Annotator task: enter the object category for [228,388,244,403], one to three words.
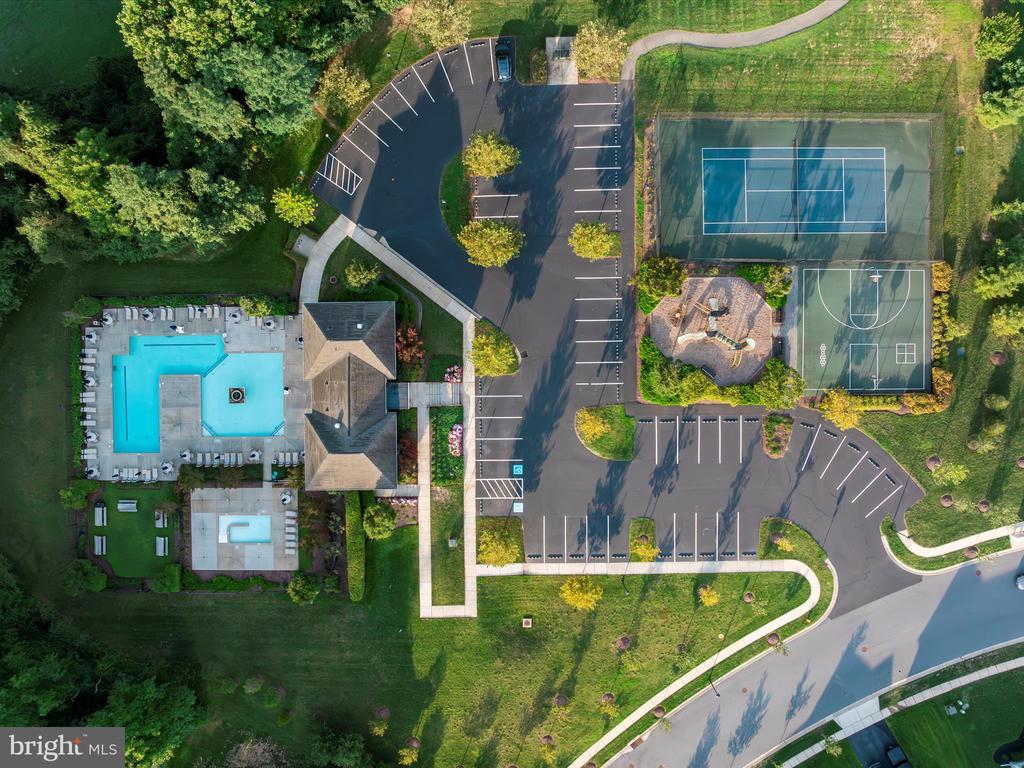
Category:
fountain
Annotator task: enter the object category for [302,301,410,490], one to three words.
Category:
building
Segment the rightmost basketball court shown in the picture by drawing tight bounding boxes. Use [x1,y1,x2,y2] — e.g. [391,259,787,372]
[797,263,932,394]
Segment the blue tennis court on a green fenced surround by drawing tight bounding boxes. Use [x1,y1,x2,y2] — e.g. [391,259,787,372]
[657,118,931,262]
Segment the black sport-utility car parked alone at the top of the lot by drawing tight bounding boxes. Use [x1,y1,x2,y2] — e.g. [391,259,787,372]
[495,43,513,83]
